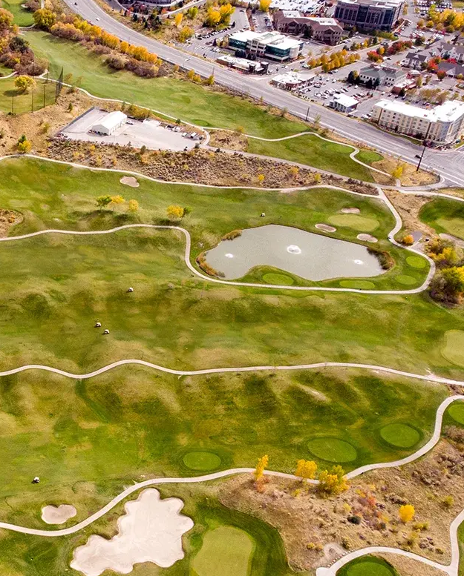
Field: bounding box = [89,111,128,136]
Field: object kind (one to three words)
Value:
shed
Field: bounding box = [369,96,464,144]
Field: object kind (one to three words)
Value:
building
